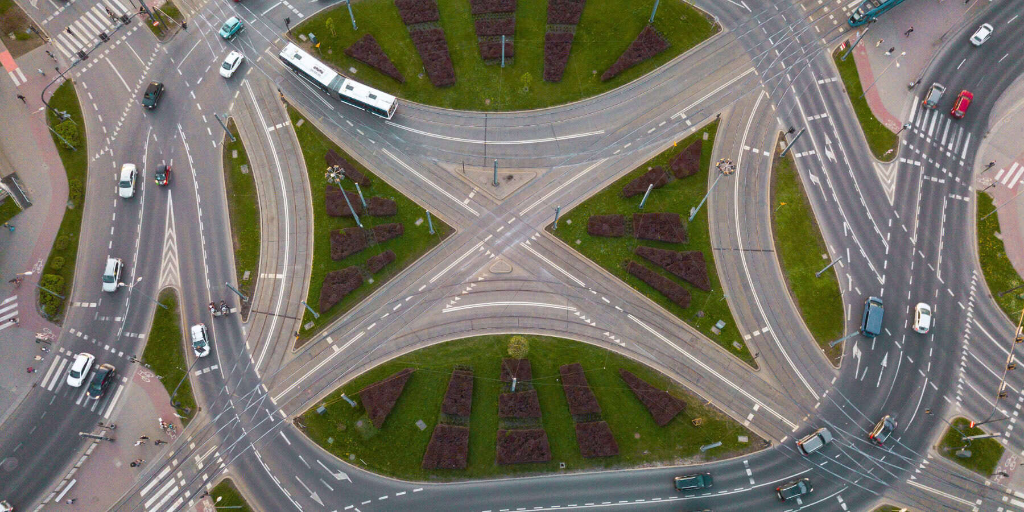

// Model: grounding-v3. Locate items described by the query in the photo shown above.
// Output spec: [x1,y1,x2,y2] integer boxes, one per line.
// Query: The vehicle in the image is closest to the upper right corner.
[969,20,994,48]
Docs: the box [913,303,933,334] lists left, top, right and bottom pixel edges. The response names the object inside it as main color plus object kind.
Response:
white car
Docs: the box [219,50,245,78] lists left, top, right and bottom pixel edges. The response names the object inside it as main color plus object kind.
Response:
white car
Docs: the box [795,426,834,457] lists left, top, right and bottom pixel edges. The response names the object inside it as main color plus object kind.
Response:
gray car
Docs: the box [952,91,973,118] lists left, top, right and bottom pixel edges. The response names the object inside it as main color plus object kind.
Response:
red car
